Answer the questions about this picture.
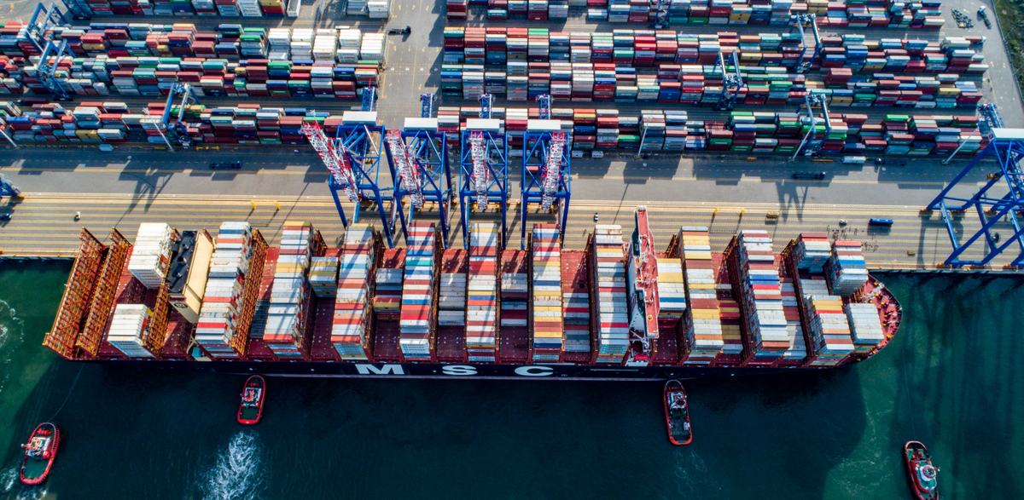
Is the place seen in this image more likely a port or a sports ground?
port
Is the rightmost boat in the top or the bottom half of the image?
bottom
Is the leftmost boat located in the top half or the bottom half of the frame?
bottom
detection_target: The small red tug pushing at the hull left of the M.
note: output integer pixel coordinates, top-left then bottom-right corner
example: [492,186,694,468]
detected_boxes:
[236,375,266,427]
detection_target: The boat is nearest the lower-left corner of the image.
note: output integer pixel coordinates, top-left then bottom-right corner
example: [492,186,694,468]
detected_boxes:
[18,421,62,485]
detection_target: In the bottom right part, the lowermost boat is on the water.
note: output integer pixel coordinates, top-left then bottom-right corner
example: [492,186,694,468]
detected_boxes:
[902,441,945,500]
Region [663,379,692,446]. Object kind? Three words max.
boat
